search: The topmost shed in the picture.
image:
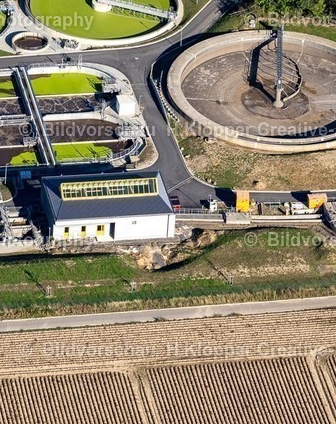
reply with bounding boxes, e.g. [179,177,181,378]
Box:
[115,93,137,116]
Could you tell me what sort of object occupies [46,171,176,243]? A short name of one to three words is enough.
building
